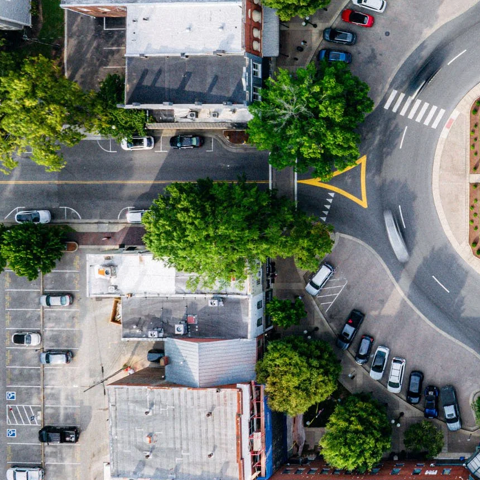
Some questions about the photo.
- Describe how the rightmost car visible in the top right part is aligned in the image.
diagonally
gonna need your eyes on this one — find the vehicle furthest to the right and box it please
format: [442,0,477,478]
[441,385,463,430]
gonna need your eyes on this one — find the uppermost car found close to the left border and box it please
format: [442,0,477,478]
[15,208,51,224]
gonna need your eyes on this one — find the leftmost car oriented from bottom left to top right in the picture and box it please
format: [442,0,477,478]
[305,262,335,296]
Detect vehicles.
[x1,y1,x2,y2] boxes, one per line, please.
[40,293,75,309]
[441,385,463,430]
[170,134,205,151]
[370,345,391,381]
[338,307,367,350]
[11,332,43,348]
[386,357,405,393]
[384,216,409,256]
[121,135,157,152]
[352,0,387,14]
[124,207,161,225]
[410,56,444,94]
[7,465,48,480]
[39,425,83,444]
[39,350,74,367]
[343,8,375,28]
[406,370,424,405]
[15,208,51,224]
[423,386,440,417]
[355,334,375,365]
[305,262,335,296]
[323,26,359,47]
